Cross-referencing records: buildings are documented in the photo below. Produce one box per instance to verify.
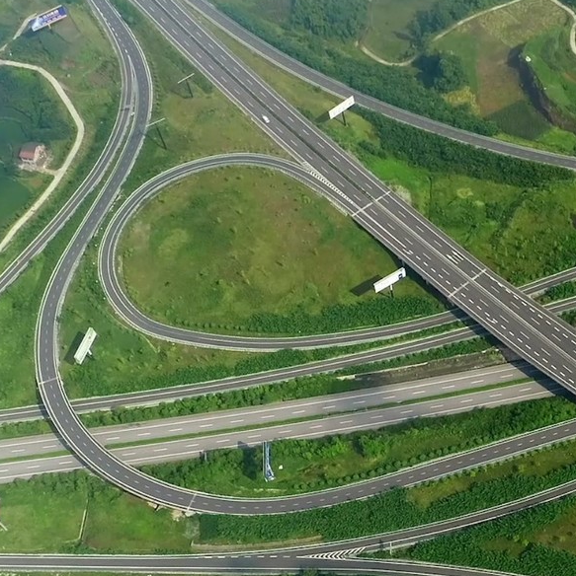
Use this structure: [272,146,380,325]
[17,143,43,164]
